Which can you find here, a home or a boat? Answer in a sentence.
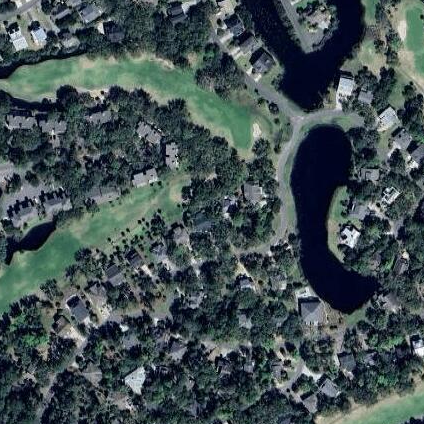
The one in the frame is a home.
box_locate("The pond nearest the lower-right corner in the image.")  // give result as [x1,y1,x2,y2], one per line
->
[291,125,379,312]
